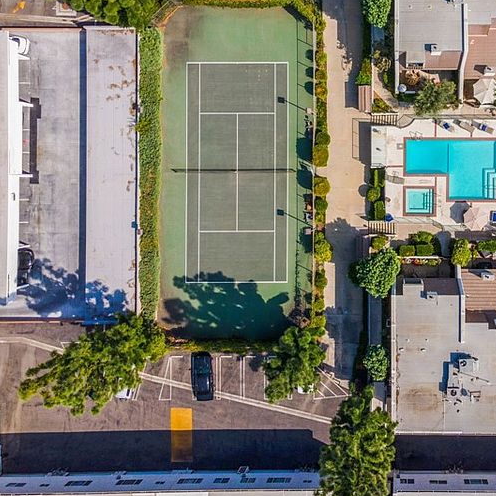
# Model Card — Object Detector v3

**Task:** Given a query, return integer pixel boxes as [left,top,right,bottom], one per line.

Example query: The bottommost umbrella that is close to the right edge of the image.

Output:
[463,204,488,229]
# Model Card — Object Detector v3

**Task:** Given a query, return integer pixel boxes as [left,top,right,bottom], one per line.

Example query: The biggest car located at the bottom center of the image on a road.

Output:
[189,353,215,400]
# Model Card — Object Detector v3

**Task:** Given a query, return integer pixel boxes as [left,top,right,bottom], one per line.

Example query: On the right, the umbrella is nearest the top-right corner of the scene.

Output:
[472,80,496,106]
